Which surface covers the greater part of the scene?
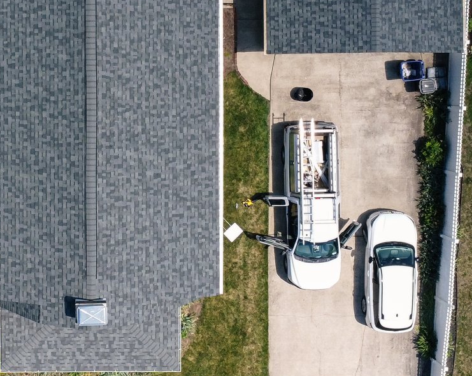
buildings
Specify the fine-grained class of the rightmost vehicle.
automobile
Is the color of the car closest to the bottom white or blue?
white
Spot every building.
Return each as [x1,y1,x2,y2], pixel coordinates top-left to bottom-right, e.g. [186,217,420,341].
[0,0,223,373]
[262,0,468,53]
